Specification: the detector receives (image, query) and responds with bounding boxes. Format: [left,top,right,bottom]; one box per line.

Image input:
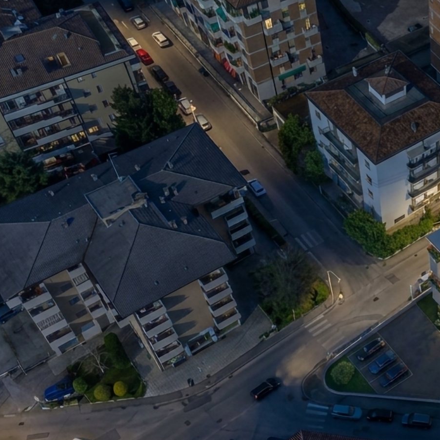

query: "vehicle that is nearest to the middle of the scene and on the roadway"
[248,178,265,198]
